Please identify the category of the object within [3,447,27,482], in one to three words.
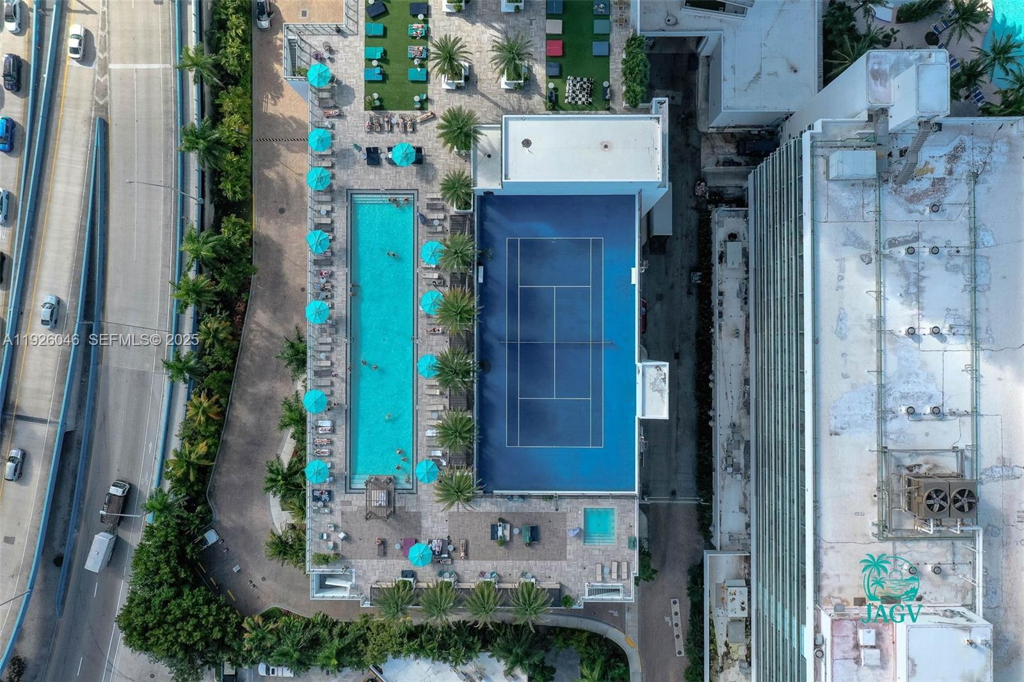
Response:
car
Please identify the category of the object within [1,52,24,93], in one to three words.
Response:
car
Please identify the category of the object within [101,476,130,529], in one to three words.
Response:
truck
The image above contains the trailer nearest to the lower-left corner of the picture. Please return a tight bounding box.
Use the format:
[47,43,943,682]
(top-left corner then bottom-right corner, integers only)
[88,528,121,571]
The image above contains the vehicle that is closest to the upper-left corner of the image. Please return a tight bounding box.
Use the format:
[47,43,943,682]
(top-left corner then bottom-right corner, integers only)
[2,0,23,33]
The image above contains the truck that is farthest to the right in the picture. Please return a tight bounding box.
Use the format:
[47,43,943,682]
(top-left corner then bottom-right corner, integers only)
[737,132,781,153]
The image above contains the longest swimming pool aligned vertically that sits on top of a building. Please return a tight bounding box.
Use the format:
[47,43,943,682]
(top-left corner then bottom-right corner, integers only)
[346,190,418,494]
